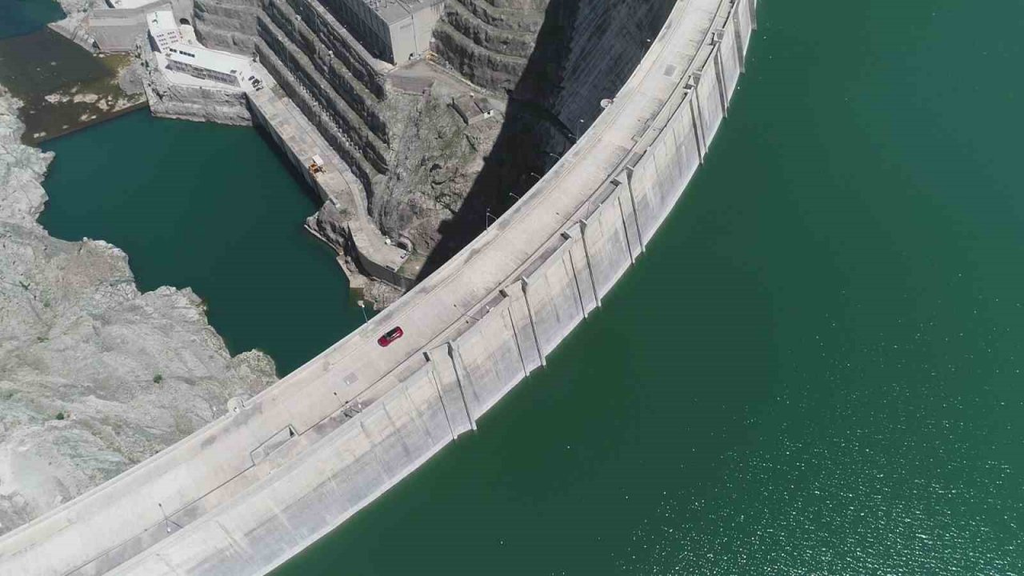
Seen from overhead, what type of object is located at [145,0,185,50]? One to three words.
building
